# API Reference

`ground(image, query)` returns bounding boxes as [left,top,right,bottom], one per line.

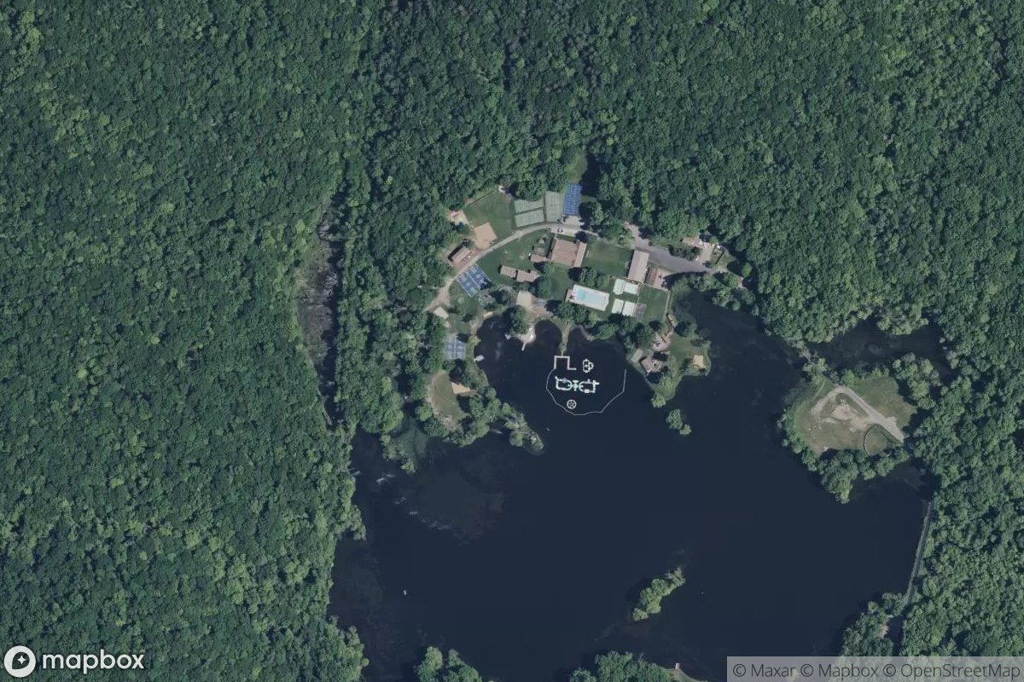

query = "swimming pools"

[571,285,609,311]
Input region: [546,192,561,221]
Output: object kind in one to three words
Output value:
tennis court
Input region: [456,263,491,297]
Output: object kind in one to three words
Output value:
basketball court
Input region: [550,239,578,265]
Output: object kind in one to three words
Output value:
building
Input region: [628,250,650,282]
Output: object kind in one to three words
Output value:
building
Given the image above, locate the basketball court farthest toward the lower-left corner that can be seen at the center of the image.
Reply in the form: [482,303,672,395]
[446,333,466,359]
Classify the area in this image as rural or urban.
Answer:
rural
